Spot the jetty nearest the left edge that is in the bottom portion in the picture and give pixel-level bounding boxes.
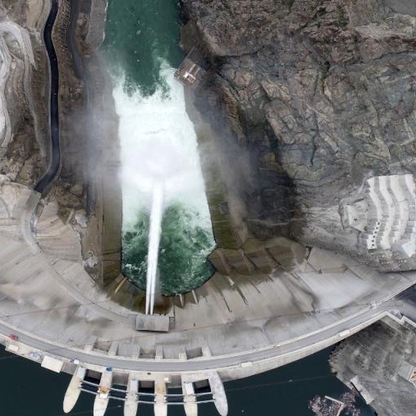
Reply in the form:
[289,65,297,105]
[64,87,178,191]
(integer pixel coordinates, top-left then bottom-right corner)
[65,366,90,414]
